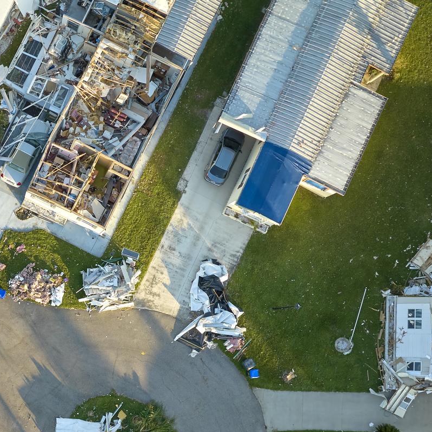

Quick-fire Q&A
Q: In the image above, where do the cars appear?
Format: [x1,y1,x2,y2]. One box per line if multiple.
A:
[199,125,252,191]
[0,111,49,190]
